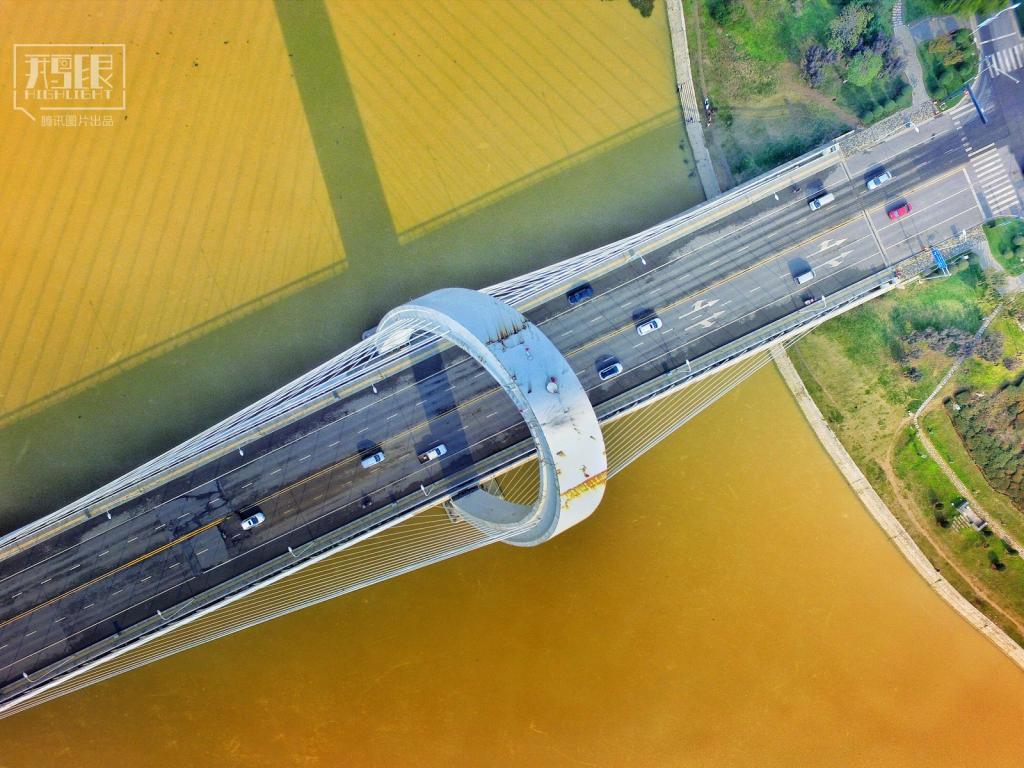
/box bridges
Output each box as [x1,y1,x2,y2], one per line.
[0,134,917,713]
